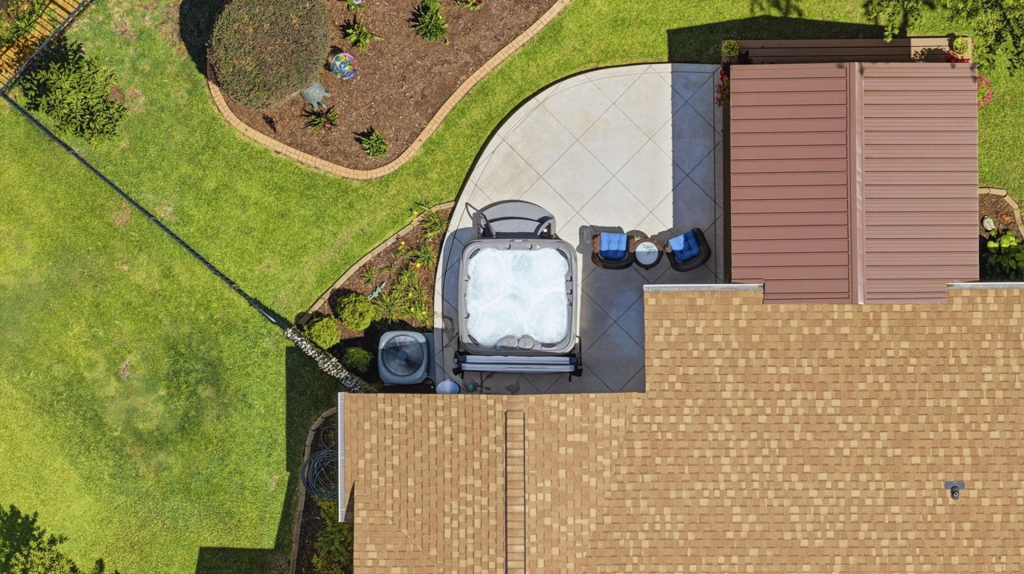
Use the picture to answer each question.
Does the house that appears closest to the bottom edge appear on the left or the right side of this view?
right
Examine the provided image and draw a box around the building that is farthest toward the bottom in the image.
[339,283,1024,574]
